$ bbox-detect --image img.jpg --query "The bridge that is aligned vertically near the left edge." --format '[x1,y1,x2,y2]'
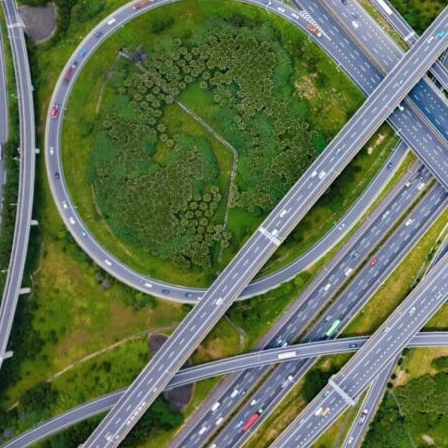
[0,23,42,369]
